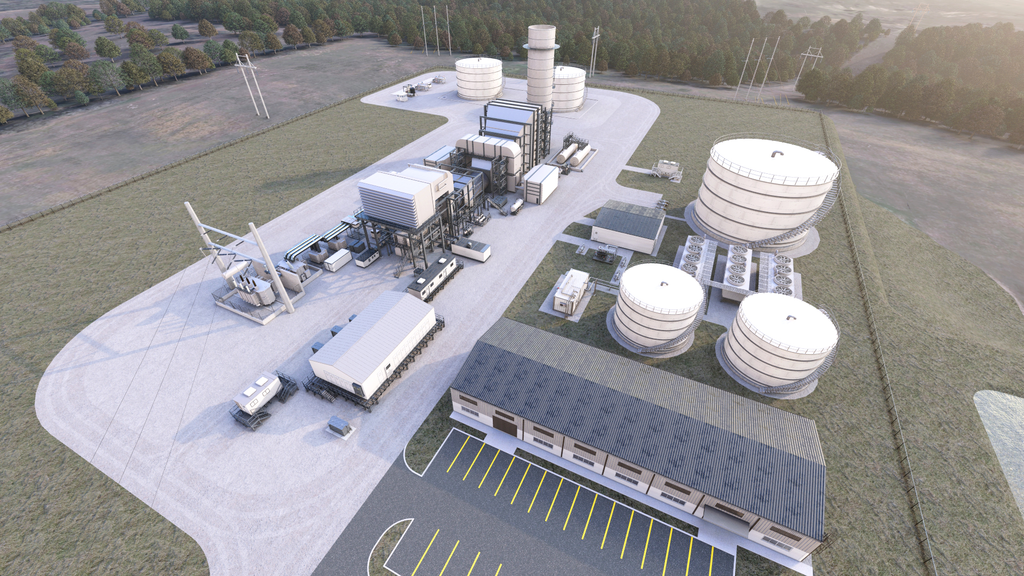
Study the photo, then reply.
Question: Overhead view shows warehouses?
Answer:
Yes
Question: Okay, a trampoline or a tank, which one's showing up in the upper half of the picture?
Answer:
tank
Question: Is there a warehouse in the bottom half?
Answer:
Yes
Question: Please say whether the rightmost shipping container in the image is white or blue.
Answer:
white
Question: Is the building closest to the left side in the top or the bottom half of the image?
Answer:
bottom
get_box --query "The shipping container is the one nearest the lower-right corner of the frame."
[554,268,590,311]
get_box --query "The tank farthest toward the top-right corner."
[692,135,840,248]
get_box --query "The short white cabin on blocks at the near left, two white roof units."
[231,370,284,417]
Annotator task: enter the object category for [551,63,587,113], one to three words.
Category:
storage tank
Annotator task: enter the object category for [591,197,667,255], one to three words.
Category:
building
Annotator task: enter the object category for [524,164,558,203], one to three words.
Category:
house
